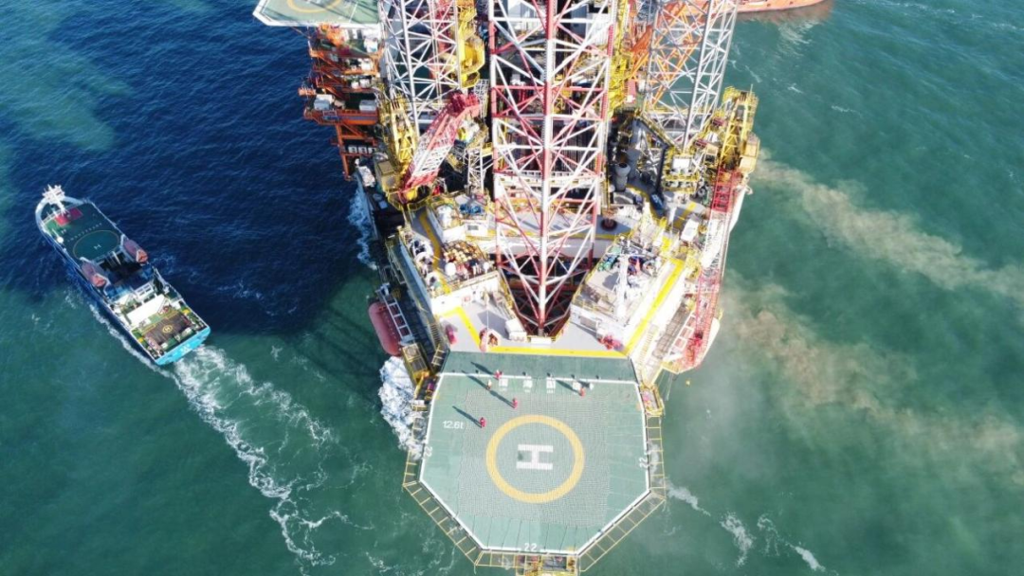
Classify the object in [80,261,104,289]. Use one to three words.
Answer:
boat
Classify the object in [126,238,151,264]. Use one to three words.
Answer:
boat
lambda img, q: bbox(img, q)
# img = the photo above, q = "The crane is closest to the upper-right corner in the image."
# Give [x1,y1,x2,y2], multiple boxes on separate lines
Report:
[670,78,770,376]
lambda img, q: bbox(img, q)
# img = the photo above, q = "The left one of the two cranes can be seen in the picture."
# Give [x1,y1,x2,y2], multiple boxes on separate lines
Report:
[371,86,489,235]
